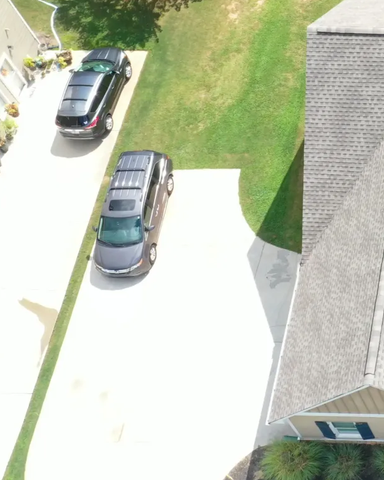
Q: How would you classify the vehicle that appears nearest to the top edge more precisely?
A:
automobile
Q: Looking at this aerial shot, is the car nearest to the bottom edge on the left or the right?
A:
left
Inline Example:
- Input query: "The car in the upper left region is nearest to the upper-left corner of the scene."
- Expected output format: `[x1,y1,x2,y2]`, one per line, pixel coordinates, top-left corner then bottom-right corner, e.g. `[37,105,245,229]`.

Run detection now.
[47,49,132,147]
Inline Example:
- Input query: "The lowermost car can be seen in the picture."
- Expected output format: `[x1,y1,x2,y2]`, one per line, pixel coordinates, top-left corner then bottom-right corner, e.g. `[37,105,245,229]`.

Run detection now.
[83,150,173,289]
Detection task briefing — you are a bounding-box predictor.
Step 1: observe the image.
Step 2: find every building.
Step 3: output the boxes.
[0,0,38,126]
[264,0,384,445]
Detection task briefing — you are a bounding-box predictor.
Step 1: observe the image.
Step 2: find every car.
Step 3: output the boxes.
[47,49,132,147]
[83,150,173,289]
